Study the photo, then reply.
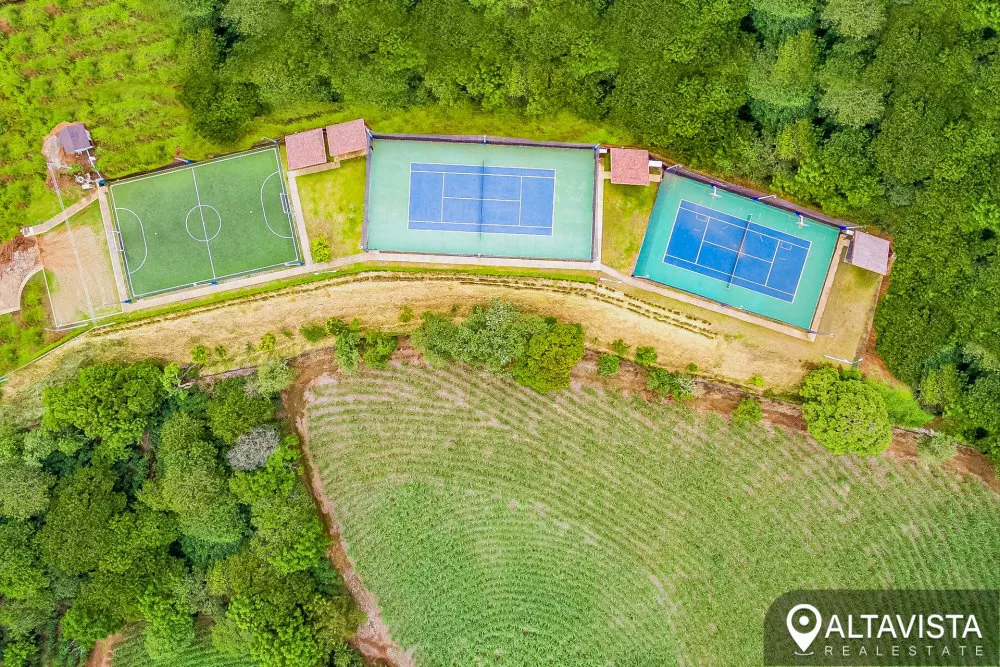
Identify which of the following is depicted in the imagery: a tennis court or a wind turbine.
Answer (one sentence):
The image shows a tennis court.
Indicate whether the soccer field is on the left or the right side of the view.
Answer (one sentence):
The soccer field appears in the left half of the scene.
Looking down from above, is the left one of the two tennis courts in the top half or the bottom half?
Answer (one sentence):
Seen from above, the left one of the two tennis courts lies in the top half of the view.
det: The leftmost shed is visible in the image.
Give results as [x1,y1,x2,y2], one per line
[60,124,97,153]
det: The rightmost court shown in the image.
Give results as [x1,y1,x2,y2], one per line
[634,173,839,330]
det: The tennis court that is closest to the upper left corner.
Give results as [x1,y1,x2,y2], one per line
[367,140,595,261]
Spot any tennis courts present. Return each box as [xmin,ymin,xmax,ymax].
[634,173,839,330]
[367,140,595,261]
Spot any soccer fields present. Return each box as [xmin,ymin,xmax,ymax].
[108,146,303,302]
